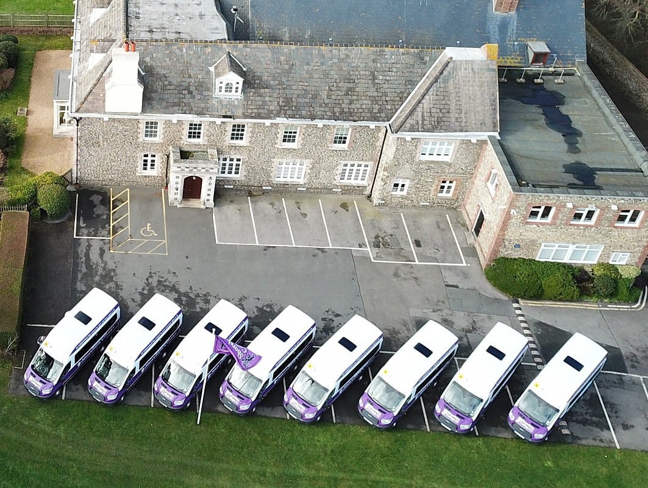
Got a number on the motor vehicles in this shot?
8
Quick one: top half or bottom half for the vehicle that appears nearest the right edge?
bottom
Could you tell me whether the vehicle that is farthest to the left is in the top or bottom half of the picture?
bottom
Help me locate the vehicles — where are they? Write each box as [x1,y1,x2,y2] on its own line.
[214,305,317,421]
[500,333,609,449]
[85,293,183,412]
[428,323,529,442]
[23,287,123,405]
[279,314,385,430]
[353,321,461,436]
[149,300,250,418]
